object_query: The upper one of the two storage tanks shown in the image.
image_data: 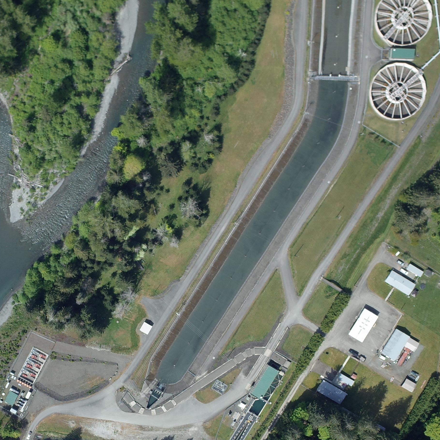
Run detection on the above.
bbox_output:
[374,0,432,46]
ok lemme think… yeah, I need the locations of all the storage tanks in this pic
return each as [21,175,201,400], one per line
[368,63,427,122]
[374,0,432,46]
